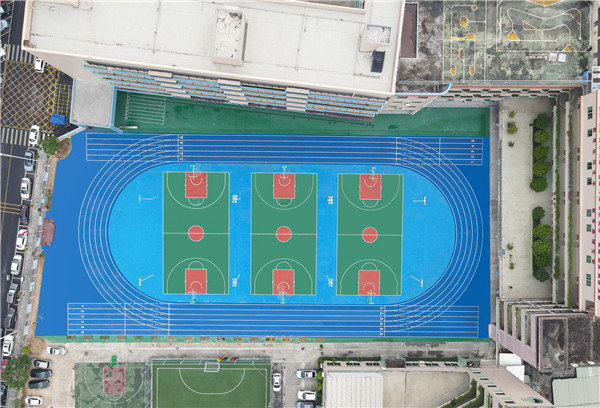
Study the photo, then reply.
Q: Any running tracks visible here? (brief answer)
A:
Yes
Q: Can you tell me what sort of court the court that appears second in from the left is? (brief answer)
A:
basketball court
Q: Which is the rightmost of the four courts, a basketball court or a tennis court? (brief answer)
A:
basketball court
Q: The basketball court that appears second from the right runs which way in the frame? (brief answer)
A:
up and down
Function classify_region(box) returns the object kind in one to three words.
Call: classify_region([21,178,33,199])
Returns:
vehicle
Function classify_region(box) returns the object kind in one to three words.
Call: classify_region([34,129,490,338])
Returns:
running track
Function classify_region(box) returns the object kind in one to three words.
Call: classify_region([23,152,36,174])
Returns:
vehicle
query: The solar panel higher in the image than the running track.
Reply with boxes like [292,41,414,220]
[370,50,385,73]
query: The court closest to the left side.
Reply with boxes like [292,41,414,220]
[74,362,146,408]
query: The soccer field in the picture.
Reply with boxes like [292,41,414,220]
[151,359,270,408]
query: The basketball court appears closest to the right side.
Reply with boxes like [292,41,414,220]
[336,167,404,303]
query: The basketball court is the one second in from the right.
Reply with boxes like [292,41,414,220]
[250,165,318,301]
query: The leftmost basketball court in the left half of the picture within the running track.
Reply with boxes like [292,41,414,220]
[162,164,230,301]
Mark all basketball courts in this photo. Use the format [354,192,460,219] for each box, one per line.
[74,362,146,408]
[162,164,230,301]
[250,165,318,301]
[336,167,404,303]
